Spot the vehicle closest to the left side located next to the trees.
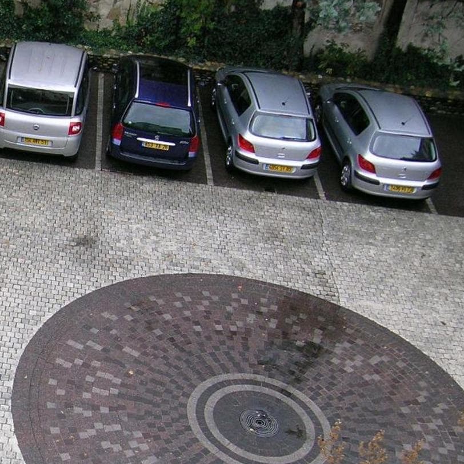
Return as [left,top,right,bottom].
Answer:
[110,54,208,171]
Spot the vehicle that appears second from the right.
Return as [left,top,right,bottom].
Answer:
[214,65,323,178]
